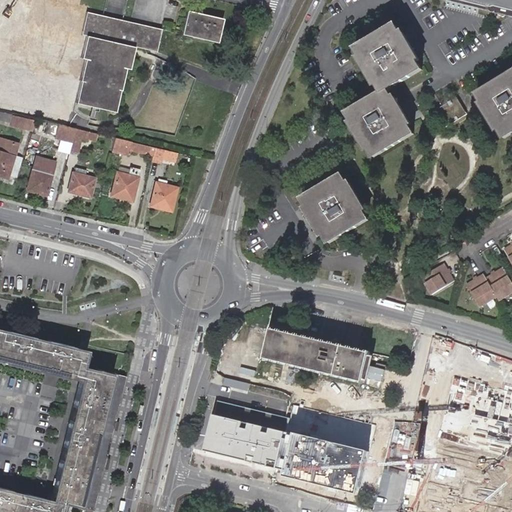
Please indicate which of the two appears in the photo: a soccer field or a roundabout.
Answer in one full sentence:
There is a roundabout in the scene.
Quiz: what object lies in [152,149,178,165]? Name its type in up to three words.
house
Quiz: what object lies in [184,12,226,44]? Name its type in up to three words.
house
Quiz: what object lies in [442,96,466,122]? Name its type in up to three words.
building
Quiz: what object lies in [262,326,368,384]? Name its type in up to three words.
building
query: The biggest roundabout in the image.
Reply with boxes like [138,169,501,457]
[174,260,224,310]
